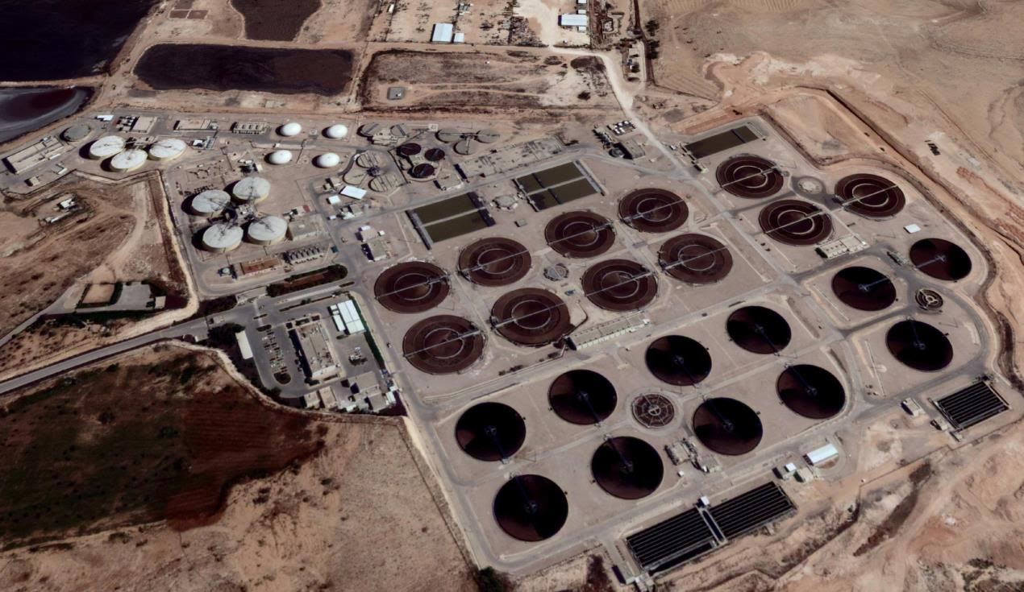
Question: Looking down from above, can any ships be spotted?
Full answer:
No, there isn't any ship down there.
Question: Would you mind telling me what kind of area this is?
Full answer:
The picture captures an industrial area.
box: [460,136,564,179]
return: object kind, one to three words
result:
building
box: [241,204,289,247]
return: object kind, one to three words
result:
storage tank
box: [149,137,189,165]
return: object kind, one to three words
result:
storage tank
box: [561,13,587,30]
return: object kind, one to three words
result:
shed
